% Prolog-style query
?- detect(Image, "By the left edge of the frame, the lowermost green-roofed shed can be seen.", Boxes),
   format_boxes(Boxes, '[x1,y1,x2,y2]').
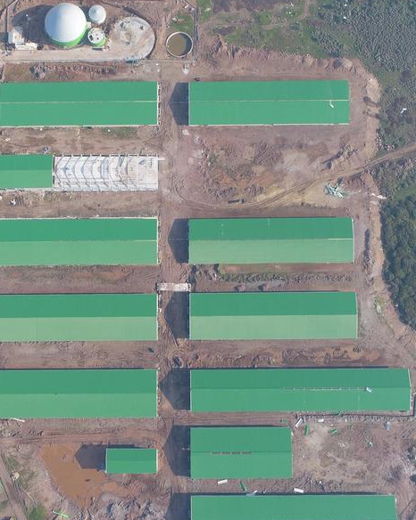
[0,369,161,419]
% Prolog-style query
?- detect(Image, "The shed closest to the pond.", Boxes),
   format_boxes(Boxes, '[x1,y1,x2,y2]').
[106,448,159,474]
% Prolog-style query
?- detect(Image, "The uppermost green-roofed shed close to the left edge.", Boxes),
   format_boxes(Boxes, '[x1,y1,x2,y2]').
[0,81,161,129]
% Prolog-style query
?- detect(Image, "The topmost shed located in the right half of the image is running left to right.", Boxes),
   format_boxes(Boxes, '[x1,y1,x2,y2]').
[188,80,350,128]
